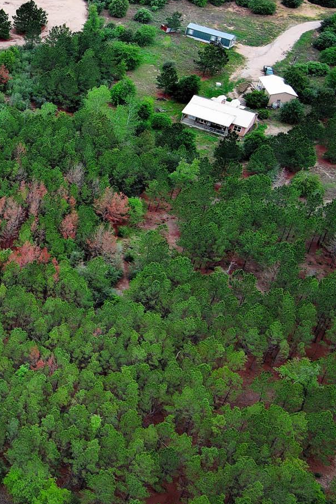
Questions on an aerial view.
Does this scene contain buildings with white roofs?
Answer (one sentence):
Yes, the image includes a building with a white roof.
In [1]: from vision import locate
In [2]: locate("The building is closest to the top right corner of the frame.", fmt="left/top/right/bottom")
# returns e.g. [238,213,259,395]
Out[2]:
[253,73,298,108]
